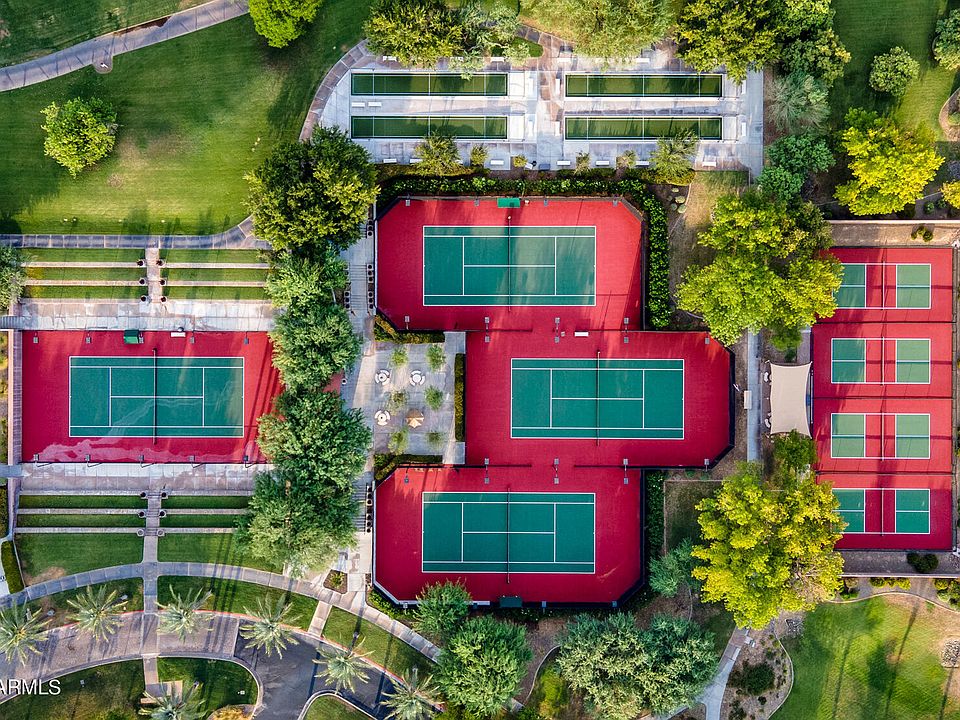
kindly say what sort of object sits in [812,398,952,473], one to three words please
sports court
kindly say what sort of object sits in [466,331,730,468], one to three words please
tennis court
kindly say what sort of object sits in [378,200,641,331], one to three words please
tennis court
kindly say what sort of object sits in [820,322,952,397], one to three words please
sports court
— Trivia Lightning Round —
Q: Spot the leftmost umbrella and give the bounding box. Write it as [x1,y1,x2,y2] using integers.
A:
[404,412,423,431]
